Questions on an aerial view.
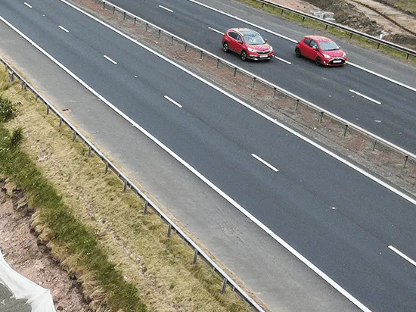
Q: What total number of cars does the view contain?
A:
2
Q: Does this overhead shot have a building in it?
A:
No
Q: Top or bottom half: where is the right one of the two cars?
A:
top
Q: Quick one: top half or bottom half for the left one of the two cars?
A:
top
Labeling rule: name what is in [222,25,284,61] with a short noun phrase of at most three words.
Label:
car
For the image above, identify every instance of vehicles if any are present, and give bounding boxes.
[293,32,353,66]
[222,25,284,61]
